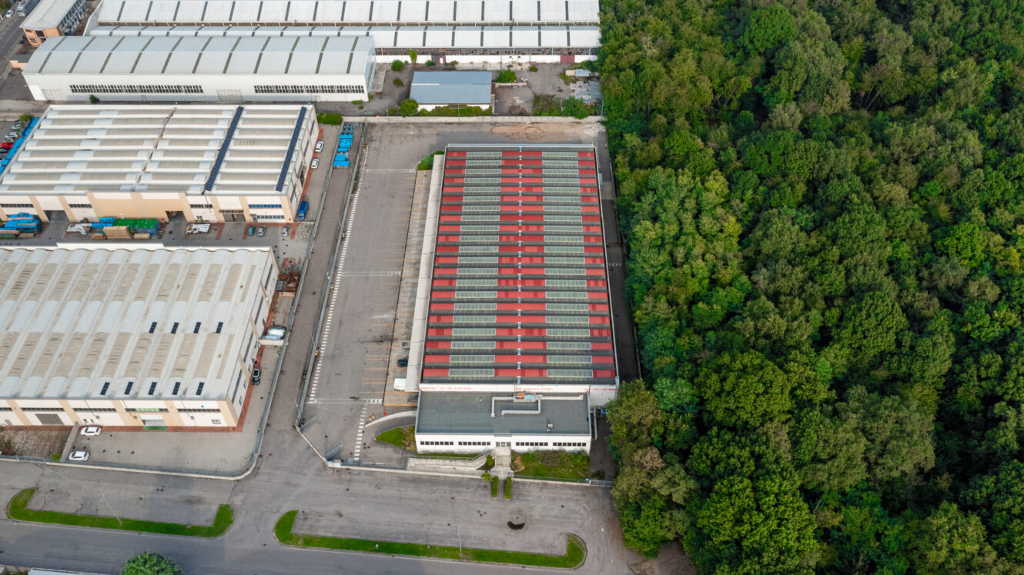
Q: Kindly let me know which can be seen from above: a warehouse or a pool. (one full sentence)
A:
I can see a warehouse in this picture.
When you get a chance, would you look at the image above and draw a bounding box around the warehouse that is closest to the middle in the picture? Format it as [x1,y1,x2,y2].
[407,146,621,410]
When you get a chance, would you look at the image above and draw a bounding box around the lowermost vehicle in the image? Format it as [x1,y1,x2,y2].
[67,449,92,461]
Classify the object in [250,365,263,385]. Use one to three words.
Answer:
vehicle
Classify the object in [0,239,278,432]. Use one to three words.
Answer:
building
